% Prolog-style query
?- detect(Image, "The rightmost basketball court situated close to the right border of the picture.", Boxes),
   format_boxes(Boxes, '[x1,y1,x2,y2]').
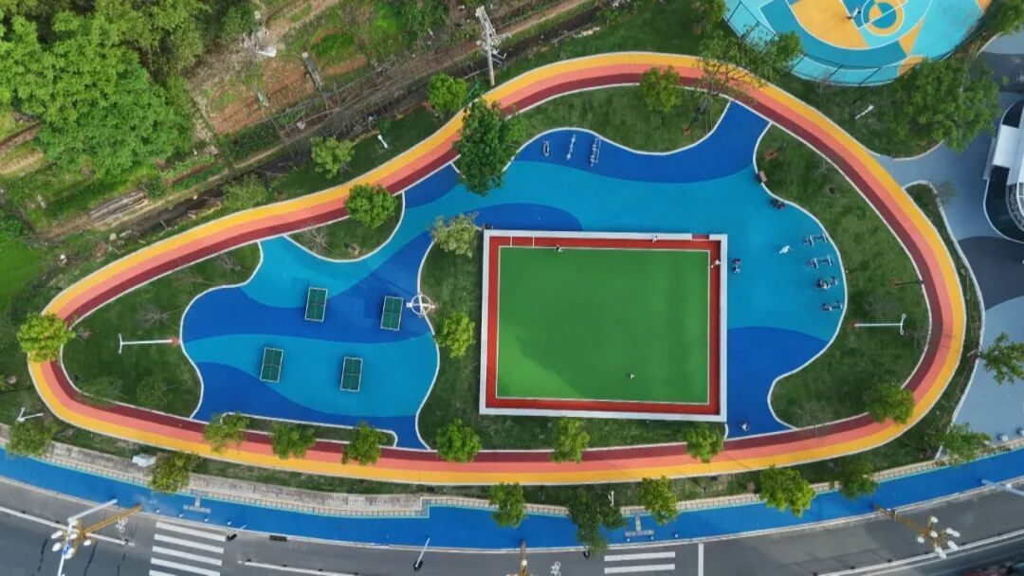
[712,0,990,87]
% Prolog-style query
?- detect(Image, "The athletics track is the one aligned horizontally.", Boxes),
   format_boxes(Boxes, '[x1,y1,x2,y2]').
[27,50,968,487]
